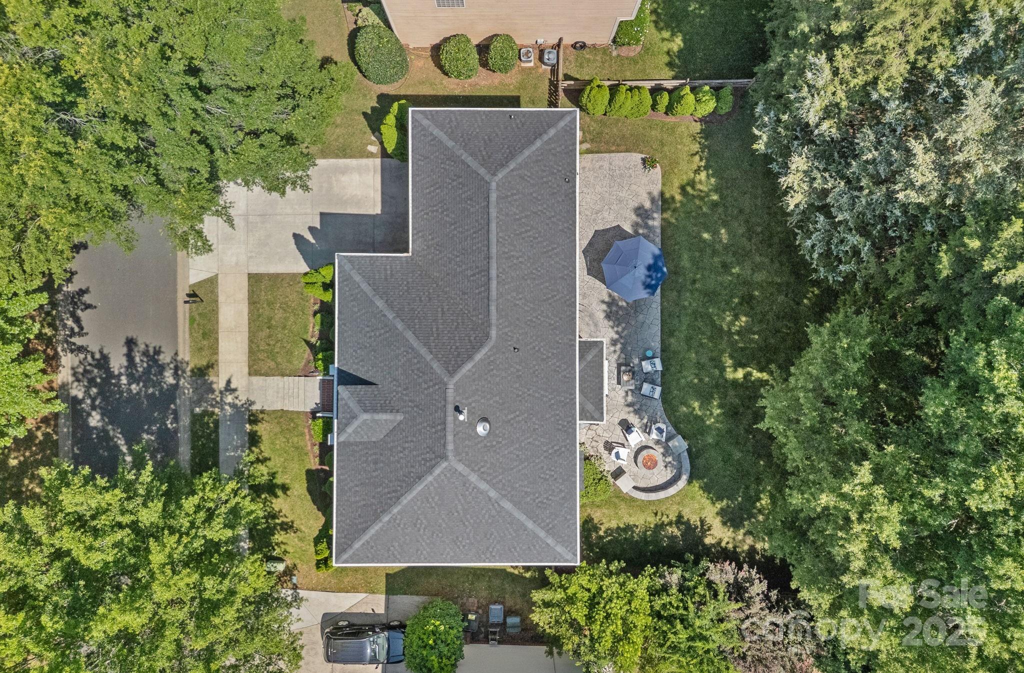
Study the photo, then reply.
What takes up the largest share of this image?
trees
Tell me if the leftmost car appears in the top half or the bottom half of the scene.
bottom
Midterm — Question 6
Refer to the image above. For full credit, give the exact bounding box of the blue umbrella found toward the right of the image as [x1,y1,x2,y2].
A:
[601,235,667,301]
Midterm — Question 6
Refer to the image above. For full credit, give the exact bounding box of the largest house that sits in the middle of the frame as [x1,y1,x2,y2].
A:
[329,108,609,566]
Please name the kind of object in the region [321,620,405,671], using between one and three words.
car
